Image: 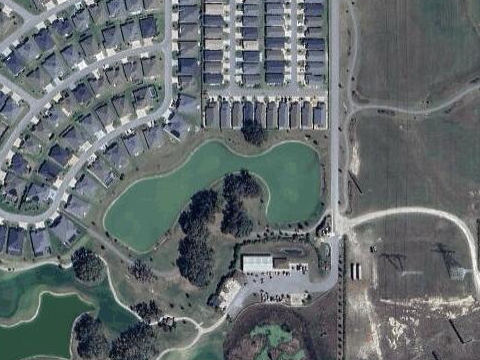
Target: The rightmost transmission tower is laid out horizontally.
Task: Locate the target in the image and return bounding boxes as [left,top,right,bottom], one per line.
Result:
[450,268,480,281]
